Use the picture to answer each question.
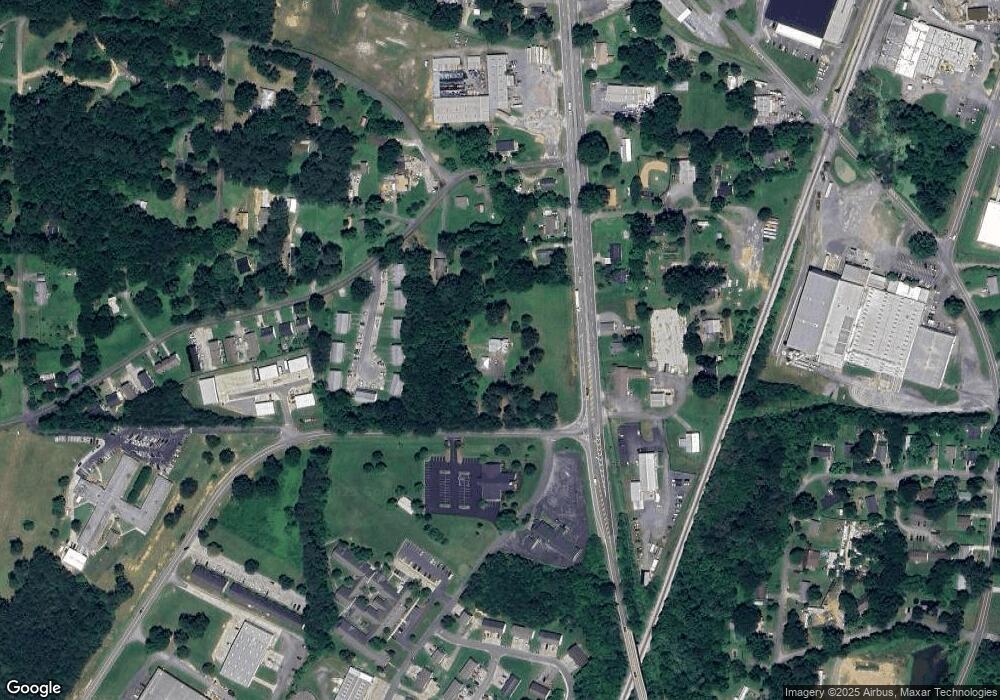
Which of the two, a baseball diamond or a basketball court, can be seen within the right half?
baseball diamond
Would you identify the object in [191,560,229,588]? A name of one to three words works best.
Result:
building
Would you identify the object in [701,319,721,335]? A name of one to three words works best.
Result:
house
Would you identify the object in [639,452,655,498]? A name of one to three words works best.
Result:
building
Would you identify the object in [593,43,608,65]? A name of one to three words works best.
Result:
house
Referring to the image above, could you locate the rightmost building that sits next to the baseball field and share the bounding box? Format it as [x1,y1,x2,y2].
[679,160,697,185]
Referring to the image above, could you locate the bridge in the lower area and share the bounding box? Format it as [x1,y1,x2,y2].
[622,630,646,700]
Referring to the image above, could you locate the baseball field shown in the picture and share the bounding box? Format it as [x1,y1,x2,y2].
[628,156,677,197]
